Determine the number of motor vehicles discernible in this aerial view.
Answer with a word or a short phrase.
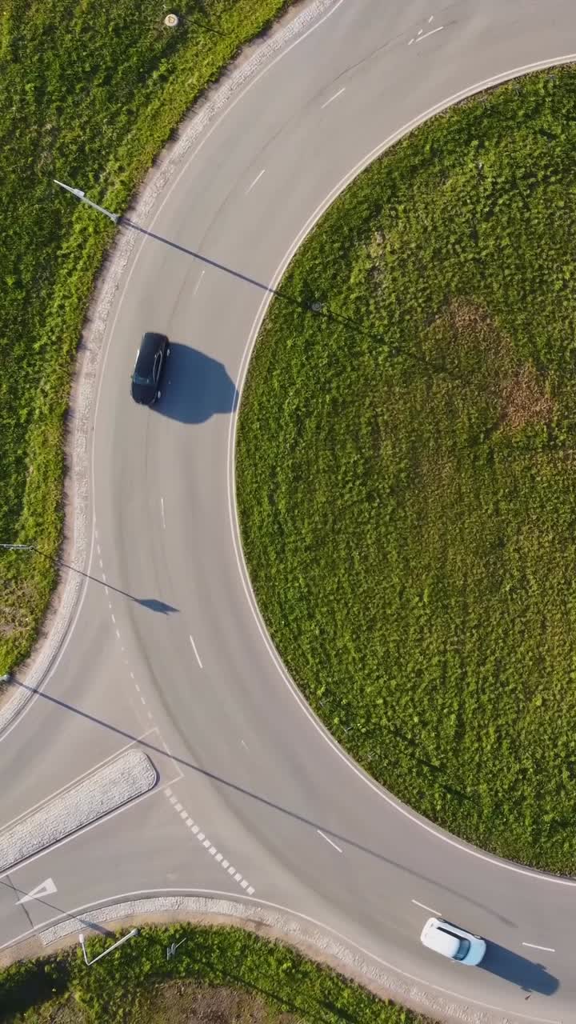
two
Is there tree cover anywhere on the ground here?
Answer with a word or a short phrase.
No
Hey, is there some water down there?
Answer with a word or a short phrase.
No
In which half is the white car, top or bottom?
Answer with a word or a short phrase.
bottom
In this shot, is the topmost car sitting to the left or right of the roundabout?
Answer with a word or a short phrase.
on the left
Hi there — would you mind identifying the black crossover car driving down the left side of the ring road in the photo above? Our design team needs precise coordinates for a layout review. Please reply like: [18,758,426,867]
[127,332,170,406]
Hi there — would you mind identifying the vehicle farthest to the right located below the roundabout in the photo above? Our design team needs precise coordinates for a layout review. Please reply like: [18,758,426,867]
[422,917,486,966]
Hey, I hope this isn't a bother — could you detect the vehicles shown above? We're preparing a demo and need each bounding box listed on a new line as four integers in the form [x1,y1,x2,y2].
[127,332,170,406]
[422,917,486,966]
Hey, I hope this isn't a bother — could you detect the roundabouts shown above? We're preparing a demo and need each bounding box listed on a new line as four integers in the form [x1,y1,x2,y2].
[233,61,576,879]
